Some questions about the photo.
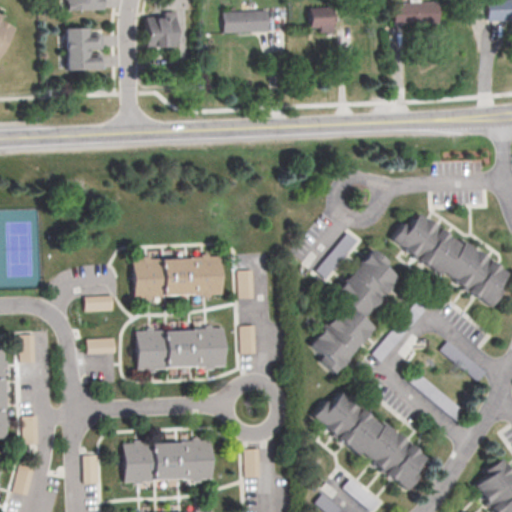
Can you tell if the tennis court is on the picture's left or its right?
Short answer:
left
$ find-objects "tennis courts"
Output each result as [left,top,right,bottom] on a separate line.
[0,210,39,289]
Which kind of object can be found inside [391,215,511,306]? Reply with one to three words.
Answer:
house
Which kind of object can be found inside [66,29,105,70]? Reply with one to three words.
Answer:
house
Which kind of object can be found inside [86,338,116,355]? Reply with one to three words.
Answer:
building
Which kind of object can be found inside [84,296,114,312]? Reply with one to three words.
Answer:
building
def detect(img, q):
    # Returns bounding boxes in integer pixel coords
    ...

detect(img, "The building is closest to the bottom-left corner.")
[12,466,34,496]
